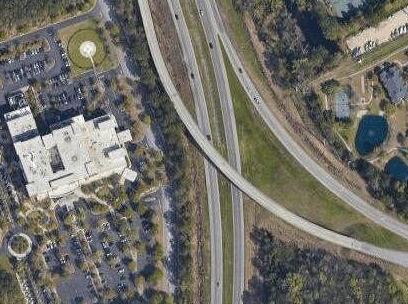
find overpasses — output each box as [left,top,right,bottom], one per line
[138,0,398,262]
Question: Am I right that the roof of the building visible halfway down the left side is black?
No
